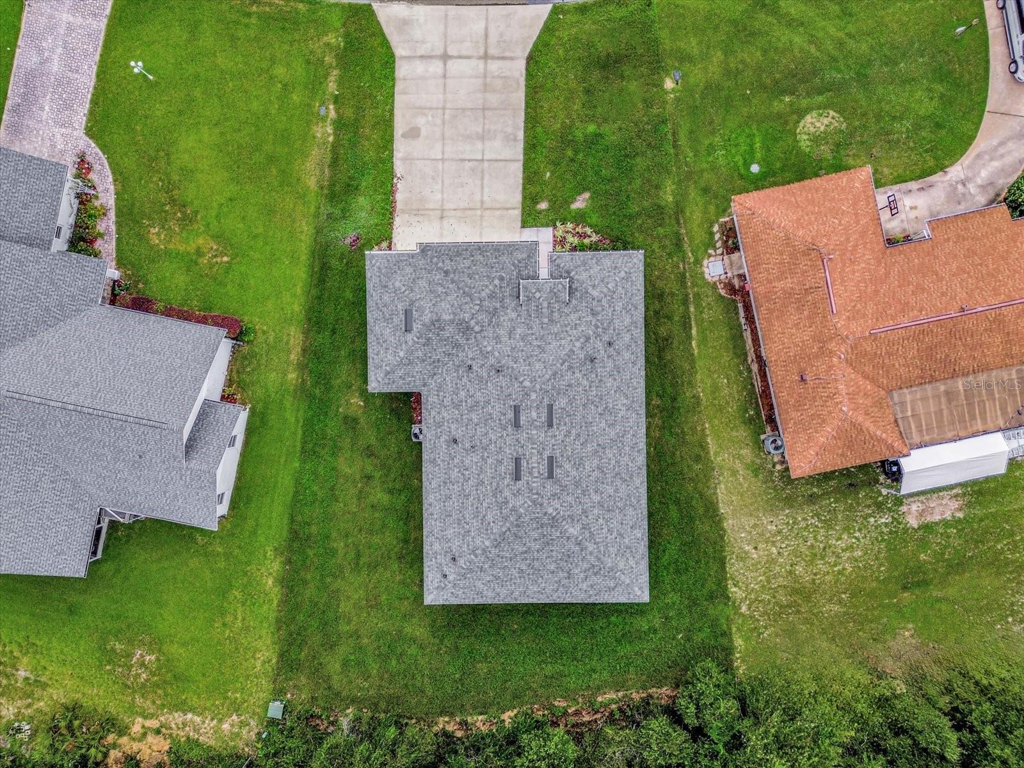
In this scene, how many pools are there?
0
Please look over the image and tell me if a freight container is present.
No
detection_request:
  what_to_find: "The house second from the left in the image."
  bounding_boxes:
[366,239,649,605]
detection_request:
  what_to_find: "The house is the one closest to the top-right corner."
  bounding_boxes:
[730,166,1024,479]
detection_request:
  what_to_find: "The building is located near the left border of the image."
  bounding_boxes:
[0,148,251,579]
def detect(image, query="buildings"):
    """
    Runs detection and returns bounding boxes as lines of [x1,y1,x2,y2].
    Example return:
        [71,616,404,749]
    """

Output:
[0,148,251,579]
[366,239,649,605]
[730,166,1024,479]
